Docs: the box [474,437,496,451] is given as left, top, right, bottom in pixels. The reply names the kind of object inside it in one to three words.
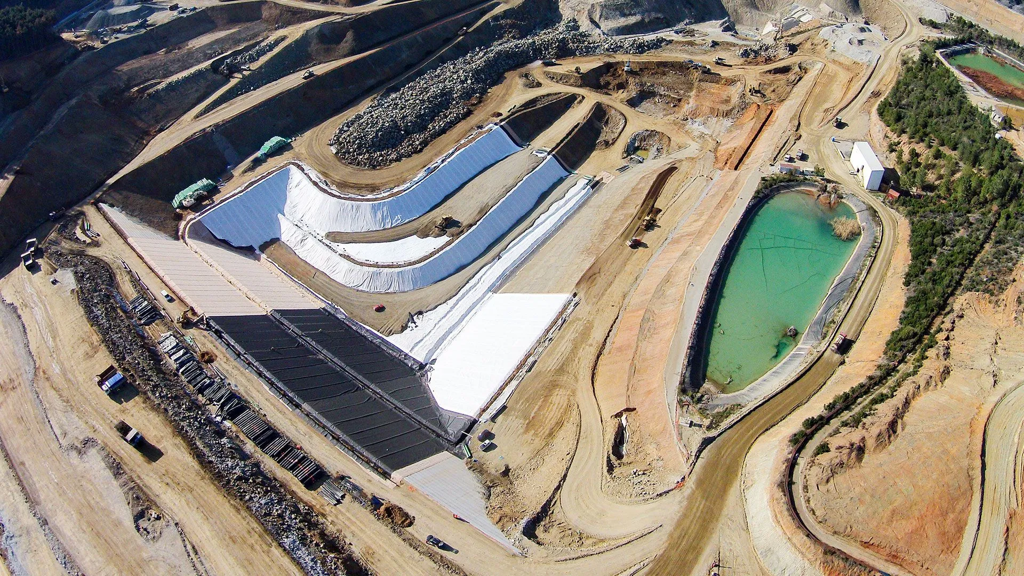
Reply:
vehicle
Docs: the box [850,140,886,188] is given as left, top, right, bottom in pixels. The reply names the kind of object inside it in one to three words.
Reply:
shed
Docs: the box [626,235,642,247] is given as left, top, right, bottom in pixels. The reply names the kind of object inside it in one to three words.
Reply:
vehicle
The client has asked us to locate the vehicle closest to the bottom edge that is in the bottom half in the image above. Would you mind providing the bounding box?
[421,531,447,549]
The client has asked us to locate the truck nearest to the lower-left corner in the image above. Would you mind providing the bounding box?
[111,417,143,445]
